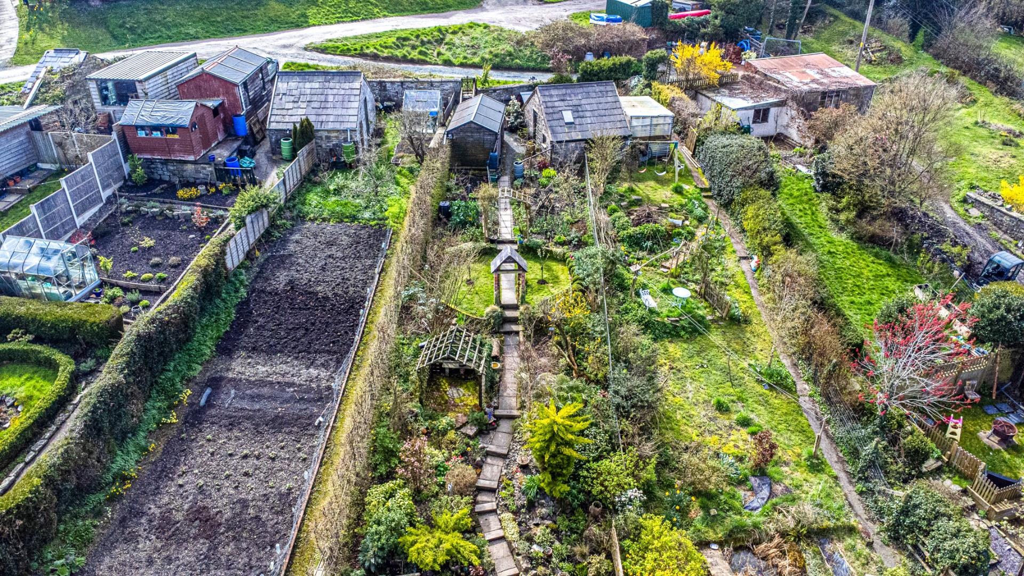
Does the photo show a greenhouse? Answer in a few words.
Yes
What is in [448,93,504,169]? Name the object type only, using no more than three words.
shed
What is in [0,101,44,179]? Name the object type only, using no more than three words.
shed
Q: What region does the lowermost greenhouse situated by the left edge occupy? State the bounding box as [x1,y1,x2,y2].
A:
[0,233,102,310]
